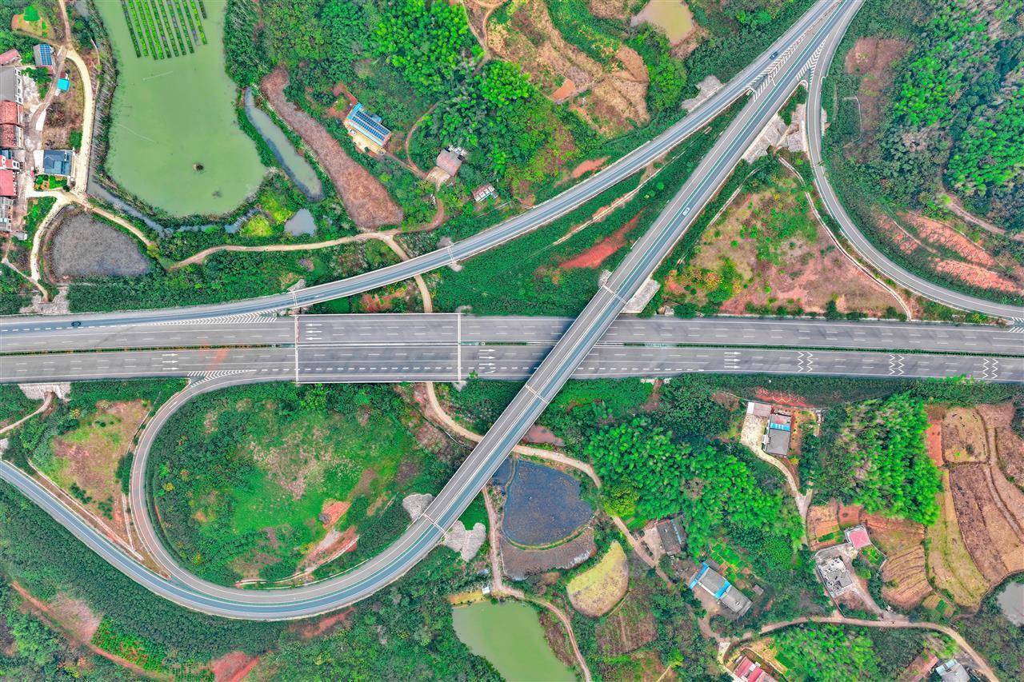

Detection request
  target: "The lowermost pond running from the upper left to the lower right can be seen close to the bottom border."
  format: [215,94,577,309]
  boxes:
[451,601,577,682]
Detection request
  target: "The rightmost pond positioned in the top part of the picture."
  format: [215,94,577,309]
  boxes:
[631,0,696,40]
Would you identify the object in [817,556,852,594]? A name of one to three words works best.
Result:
house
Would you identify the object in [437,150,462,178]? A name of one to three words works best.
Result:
house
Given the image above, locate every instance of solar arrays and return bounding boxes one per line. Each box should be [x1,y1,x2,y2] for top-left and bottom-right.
[39,43,52,64]
[357,108,387,133]
[353,113,383,139]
